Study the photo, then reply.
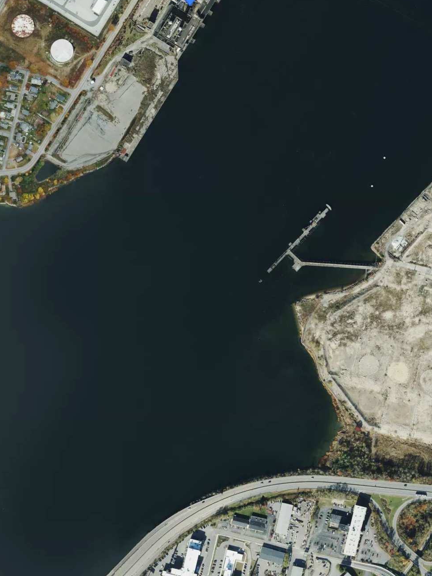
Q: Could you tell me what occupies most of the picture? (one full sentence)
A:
The largest share of the image is taken up by water.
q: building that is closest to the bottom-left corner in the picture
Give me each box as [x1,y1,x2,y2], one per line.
[163,539,202,576]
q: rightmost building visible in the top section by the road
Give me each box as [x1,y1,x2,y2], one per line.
[153,0,215,50]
